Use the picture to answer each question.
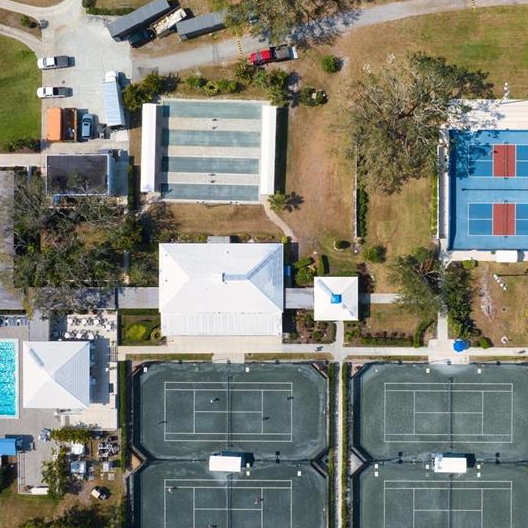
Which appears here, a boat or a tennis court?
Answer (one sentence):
Looking from above, you can make out a tennis court.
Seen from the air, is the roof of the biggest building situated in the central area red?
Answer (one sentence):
No, the roof of the biggest building situated in the central area is white.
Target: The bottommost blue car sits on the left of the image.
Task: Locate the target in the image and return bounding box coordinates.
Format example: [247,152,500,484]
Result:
[81,114,94,140]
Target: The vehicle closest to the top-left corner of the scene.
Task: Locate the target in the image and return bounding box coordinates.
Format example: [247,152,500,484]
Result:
[38,55,72,69]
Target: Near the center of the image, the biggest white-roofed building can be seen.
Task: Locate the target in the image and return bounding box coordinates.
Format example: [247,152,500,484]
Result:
[158,235,284,336]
